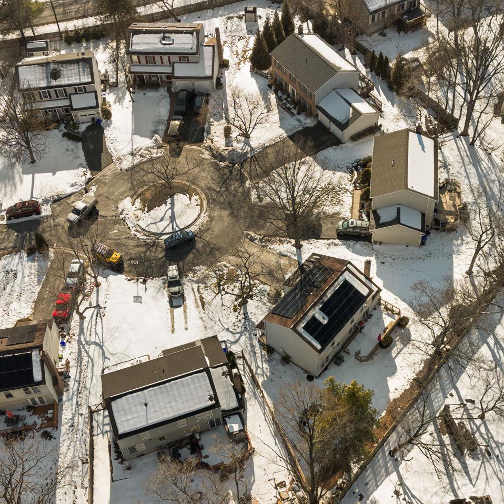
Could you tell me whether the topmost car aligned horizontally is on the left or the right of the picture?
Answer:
left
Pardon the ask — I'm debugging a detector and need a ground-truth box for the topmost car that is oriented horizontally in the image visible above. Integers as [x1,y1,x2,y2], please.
[6,199,41,219]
